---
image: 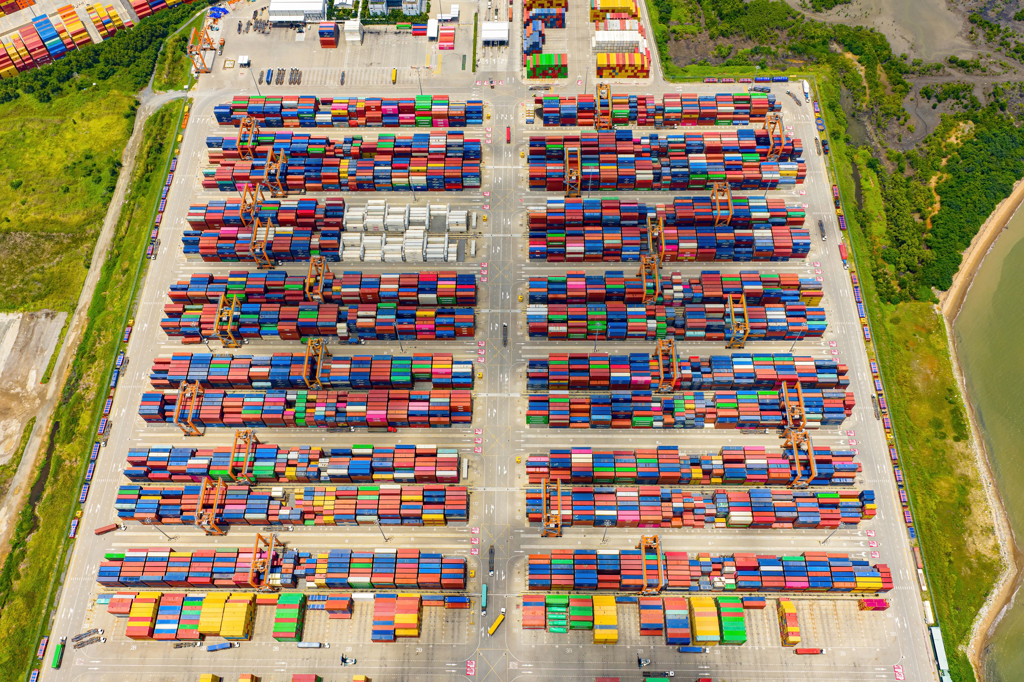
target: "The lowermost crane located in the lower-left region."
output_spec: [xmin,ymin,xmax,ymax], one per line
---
[246,532,286,594]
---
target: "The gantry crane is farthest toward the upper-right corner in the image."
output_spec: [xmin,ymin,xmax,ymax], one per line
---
[763,115,789,164]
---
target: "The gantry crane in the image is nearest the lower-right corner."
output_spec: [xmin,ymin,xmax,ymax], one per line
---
[778,430,816,489]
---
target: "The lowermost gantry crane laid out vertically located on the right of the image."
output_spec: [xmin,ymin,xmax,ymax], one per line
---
[634,533,665,596]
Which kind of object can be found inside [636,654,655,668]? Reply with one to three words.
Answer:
work vehicle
